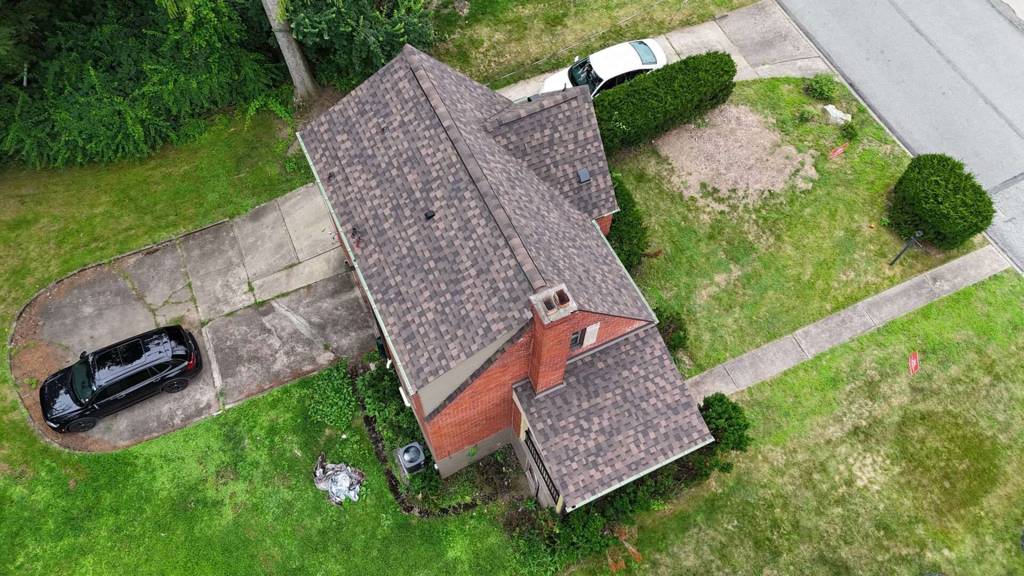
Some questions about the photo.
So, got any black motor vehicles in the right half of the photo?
No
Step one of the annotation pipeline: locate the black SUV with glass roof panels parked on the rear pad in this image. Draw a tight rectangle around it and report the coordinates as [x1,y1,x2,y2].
[38,322,204,432]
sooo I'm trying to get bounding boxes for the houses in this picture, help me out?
[296,45,715,526]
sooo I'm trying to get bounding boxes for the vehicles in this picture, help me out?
[38,322,204,432]
[540,40,664,97]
